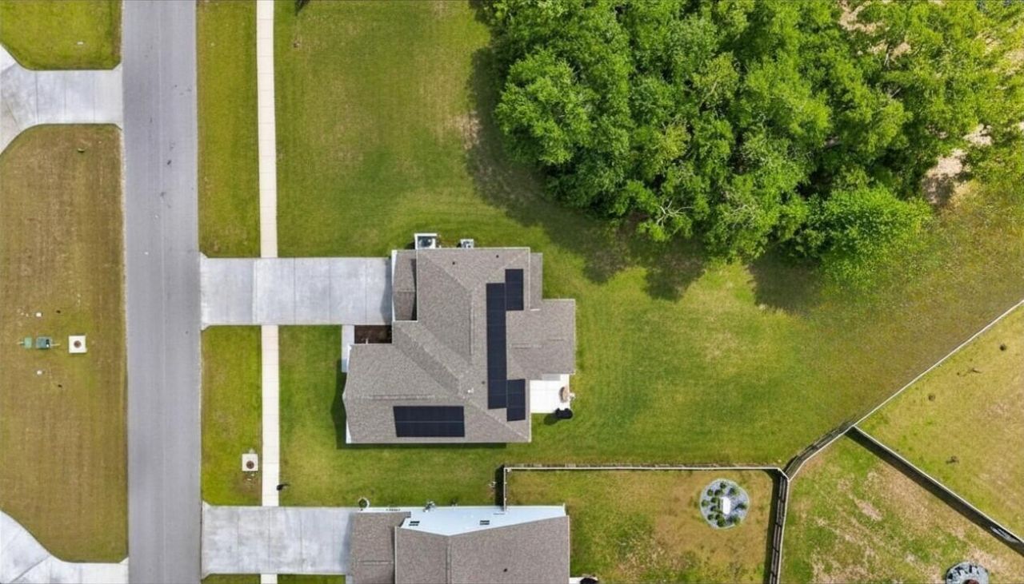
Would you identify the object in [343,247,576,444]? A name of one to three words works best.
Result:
house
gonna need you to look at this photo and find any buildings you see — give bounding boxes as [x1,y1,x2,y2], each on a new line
[352,506,570,584]
[343,247,576,444]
